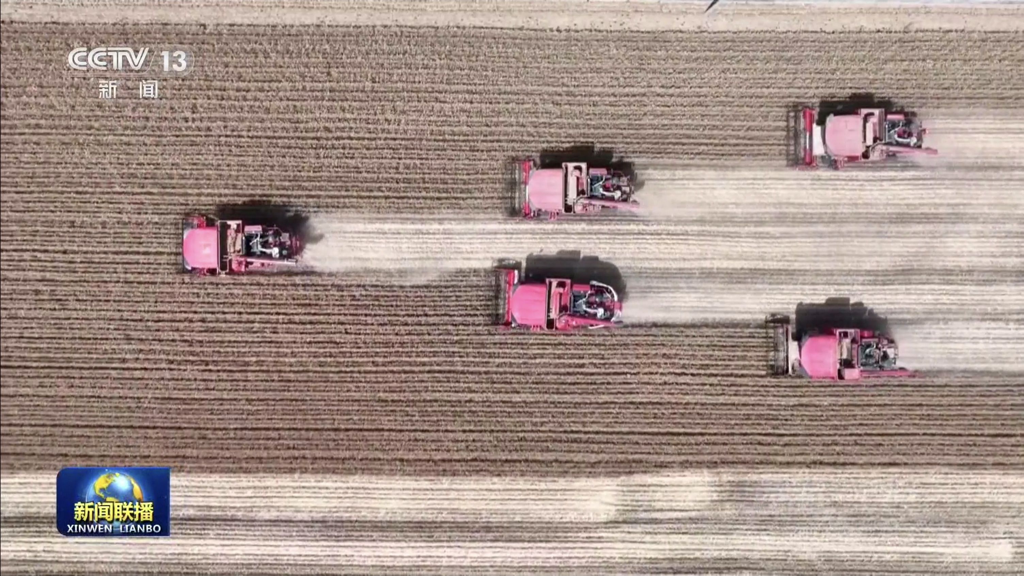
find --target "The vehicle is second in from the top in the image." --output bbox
[506,161,642,222]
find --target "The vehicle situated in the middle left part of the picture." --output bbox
[181,218,311,276]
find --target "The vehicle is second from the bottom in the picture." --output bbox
[491,274,623,332]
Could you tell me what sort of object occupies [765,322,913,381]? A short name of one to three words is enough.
work vehicle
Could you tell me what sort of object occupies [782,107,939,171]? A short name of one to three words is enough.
work vehicle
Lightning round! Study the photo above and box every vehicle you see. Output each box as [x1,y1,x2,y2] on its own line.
[782,107,939,171]
[181,218,311,276]
[506,161,642,222]
[491,274,623,332]
[765,322,913,381]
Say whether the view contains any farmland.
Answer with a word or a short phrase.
Yes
